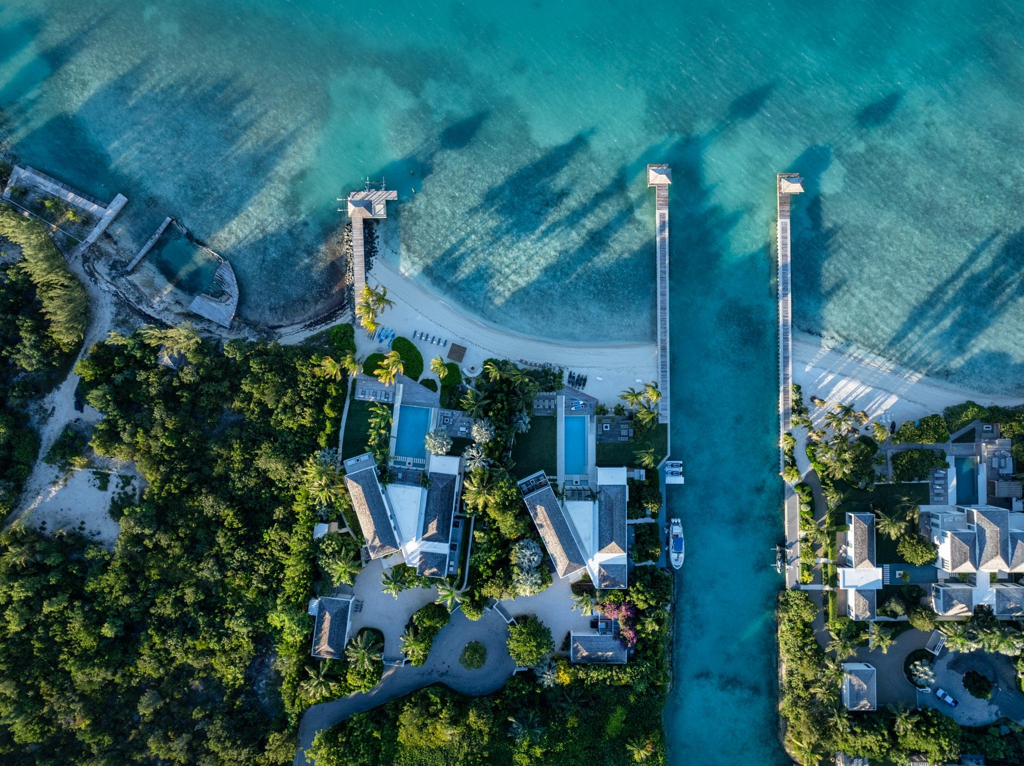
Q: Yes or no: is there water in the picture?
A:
Yes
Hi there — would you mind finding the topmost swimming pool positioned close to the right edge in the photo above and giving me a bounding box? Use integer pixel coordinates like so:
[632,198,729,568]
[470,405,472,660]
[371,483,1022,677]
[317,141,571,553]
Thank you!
[946,456,987,505]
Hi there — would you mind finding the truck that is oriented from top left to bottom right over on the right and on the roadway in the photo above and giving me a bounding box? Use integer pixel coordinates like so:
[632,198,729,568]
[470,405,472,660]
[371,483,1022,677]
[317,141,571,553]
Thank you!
[933,686,961,712]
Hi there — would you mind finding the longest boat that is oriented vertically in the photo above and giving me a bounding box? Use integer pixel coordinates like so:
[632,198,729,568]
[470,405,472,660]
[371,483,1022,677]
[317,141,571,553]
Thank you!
[670,520,684,570]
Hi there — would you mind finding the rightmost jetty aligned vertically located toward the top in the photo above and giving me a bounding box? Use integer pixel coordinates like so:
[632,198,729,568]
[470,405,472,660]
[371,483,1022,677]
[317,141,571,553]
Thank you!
[775,172,799,432]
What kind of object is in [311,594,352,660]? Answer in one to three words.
building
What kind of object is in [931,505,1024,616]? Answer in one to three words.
house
